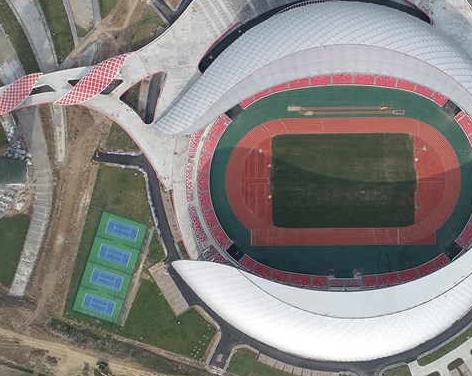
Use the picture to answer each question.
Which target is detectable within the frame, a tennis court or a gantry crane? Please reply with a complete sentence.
The image shows a tennis court.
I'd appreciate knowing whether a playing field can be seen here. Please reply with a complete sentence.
Yes, looking at the shot, I can spot a playing field.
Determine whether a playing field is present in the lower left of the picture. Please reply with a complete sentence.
No, I see no playing field in the lower left of the picture.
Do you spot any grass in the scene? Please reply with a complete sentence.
Yes, there's grass in this view.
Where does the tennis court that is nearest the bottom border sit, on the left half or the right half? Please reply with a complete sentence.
The tennis court that is nearest the bottom border sits on the left side.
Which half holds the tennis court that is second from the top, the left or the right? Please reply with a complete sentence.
It is on the left.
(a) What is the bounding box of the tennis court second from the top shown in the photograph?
[88,236,140,275]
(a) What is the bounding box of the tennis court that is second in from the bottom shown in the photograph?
[80,261,133,300]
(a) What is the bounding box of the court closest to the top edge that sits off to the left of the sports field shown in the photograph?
[95,211,148,251]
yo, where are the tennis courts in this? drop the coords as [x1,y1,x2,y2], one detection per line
[73,285,125,325]
[80,261,133,300]
[88,236,140,275]
[95,211,148,251]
